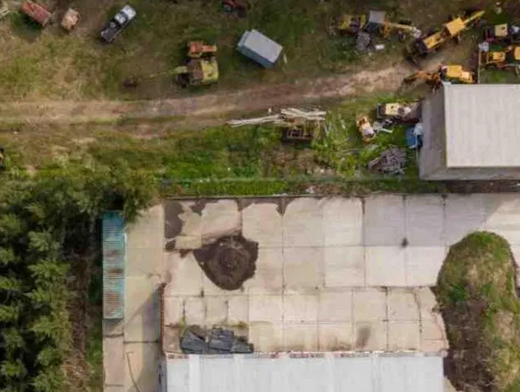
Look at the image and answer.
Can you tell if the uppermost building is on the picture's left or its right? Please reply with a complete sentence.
You can find the uppermost building on the right side of the picture.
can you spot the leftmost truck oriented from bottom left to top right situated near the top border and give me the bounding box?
[97,0,137,43]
